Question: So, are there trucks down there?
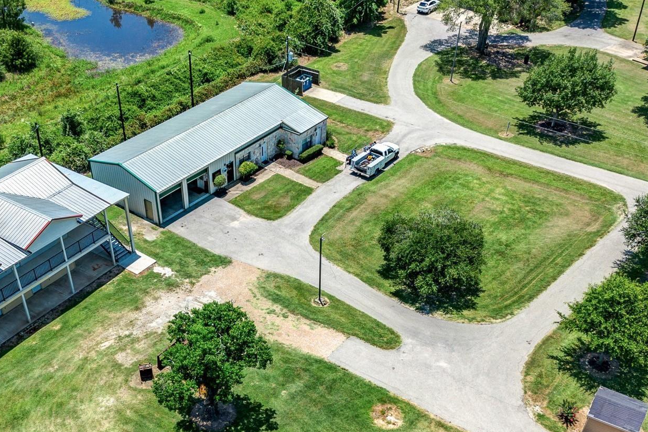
Yes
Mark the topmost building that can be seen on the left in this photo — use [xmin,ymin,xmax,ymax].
[87,81,330,228]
